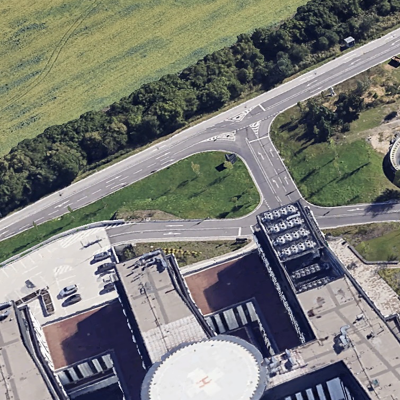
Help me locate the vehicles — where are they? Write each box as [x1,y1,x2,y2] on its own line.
[63,295,81,305]
[93,253,110,260]
[60,286,78,295]
[96,265,113,273]
[99,285,115,293]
